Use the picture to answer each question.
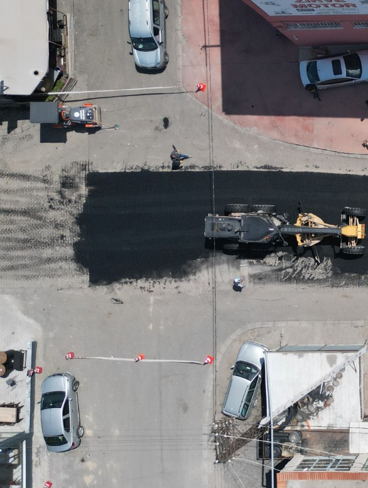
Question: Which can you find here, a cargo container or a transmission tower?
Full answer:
It is a transmission tower that can be seen here.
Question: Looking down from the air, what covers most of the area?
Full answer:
The largest share of the image is taken up by paved ground.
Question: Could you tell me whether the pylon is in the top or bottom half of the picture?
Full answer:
It is in the bottom half that the pylon appears.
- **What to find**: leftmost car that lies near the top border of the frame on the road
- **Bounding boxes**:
[128,0,173,76]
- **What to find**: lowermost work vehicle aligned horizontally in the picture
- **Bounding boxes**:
[204,203,367,263]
